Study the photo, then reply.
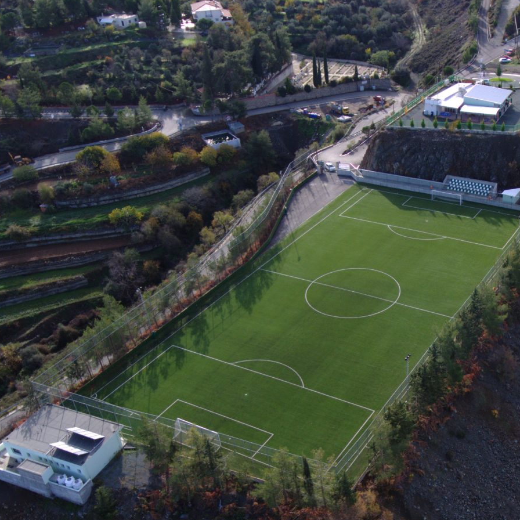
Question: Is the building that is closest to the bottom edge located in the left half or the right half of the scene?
left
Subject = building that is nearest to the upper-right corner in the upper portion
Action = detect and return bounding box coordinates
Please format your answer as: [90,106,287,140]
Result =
[423,82,514,127]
